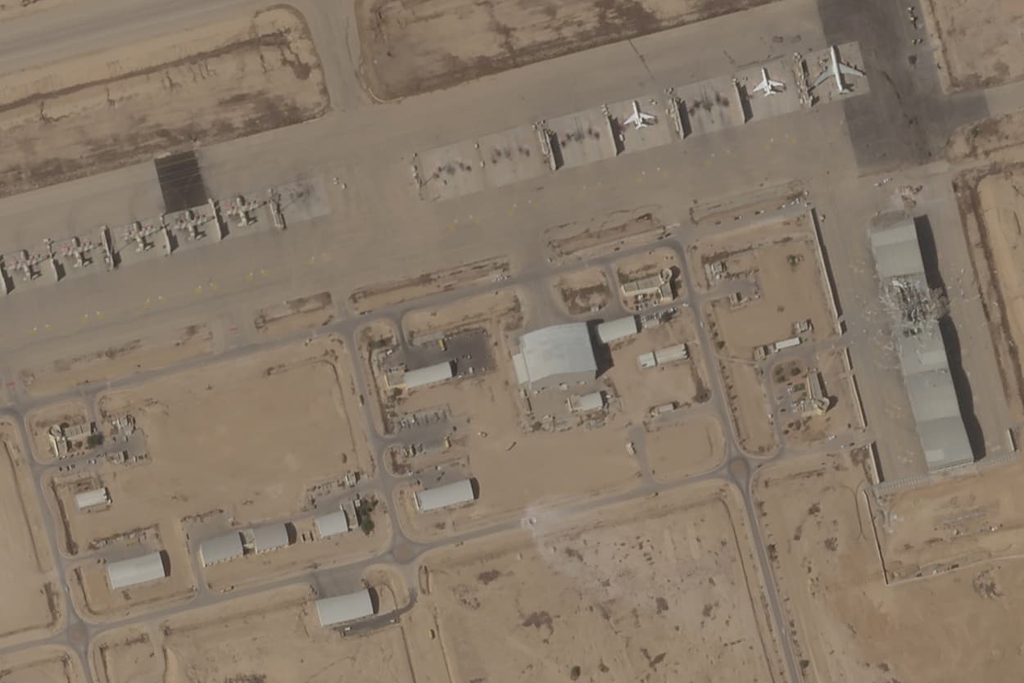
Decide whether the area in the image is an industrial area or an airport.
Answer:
airport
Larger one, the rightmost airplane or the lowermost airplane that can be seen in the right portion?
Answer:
the rightmost airplane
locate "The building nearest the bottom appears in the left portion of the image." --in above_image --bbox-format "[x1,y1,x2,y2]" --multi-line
[316,589,374,627]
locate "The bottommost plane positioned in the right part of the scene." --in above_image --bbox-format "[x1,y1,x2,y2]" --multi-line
[624,102,654,127]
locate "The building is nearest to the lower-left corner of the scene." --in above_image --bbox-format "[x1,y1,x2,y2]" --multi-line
[108,552,165,591]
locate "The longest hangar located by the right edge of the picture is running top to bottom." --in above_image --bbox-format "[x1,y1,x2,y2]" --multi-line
[869,218,974,478]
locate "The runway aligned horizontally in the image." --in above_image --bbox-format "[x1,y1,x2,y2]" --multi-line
[0,0,294,75]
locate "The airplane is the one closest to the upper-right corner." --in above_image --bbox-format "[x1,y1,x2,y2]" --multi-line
[815,48,864,90]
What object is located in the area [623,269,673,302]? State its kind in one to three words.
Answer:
building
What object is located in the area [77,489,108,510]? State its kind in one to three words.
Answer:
shed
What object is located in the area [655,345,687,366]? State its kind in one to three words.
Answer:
shed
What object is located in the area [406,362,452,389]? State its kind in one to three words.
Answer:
hangar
